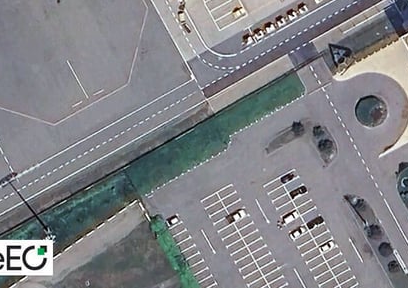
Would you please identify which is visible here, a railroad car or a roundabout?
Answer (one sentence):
The image shows a roundabout.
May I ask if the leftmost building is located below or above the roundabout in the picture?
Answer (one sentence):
As seen from overhead, the leftmost building falls above the roundabout in the picture.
